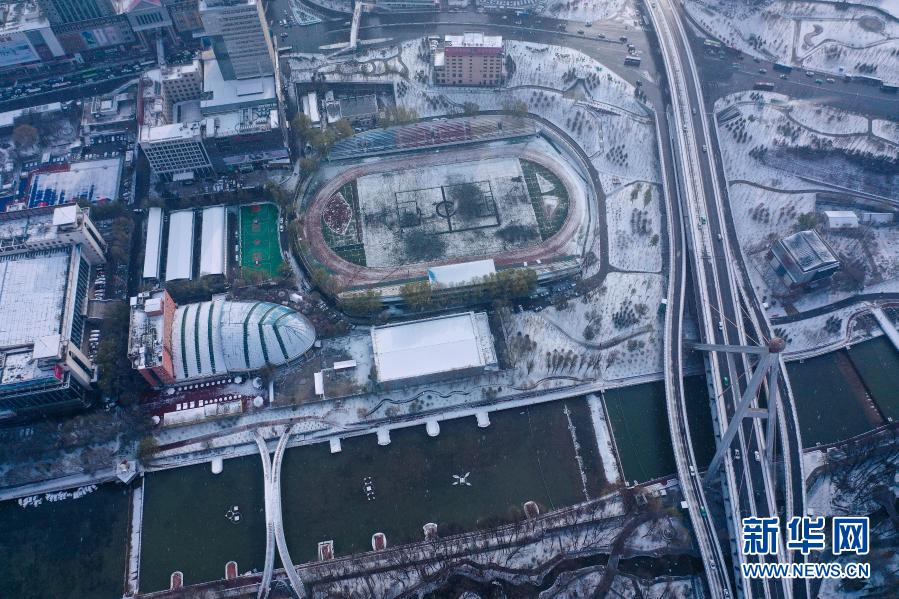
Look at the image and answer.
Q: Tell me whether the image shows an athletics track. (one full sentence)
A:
Yes, an athletics track appears in the view.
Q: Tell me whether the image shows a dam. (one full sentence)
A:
Yes, the image includes a dam.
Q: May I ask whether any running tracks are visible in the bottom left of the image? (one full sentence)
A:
No, there is no running track in the bottom left of the image.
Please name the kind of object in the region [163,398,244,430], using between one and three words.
building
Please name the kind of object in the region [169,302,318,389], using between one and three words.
building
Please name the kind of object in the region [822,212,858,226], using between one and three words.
shed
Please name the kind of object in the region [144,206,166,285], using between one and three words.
shed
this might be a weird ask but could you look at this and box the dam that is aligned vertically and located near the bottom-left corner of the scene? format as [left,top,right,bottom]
[124,473,146,599]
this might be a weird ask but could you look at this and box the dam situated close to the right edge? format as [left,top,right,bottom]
[838,351,887,429]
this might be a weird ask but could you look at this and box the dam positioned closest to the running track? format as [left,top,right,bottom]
[587,391,627,484]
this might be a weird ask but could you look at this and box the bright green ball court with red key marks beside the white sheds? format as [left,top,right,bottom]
[239,200,286,280]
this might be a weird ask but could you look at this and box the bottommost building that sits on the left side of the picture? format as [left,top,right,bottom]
[116,458,140,485]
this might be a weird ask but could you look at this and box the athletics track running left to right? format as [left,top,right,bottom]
[306,152,587,274]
